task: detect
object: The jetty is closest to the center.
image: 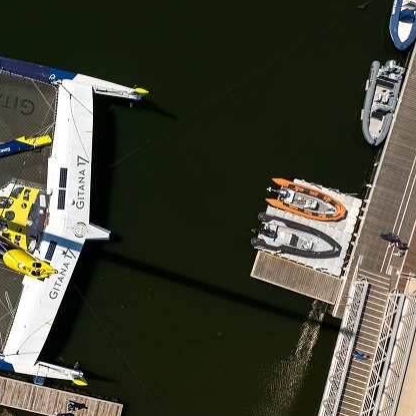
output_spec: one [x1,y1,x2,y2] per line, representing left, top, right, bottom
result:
[249,250,342,305]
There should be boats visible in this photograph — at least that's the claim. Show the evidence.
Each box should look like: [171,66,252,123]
[389,0,416,53]
[0,57,148,384]
[261,178,351,222]
[359,66,406,149]
[246,213,345,258]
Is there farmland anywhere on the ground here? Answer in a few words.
No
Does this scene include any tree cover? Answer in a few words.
No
